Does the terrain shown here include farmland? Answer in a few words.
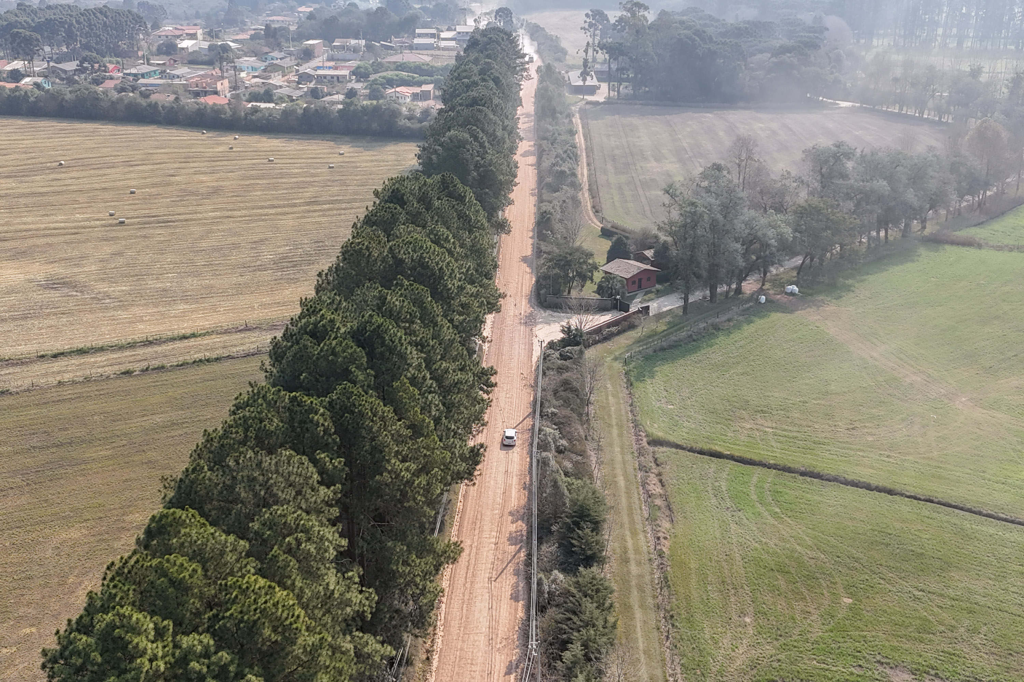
Yes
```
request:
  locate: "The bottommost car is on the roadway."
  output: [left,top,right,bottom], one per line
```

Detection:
[501,428,518,447]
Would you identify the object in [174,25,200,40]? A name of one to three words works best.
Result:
house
